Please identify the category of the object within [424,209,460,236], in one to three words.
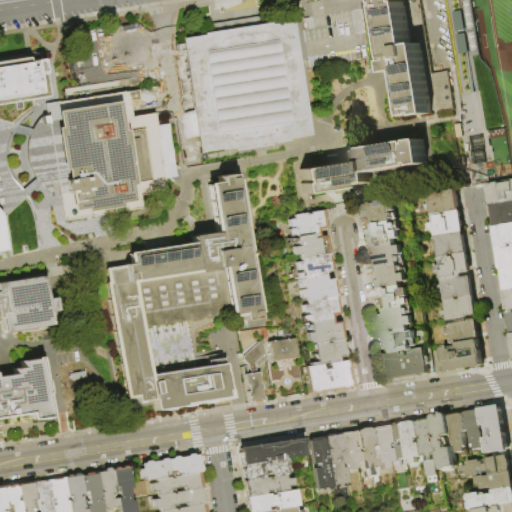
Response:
building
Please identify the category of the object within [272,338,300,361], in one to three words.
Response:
house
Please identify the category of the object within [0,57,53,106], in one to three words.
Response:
building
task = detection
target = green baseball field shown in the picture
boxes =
[475,0,512,128]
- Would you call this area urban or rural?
urban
